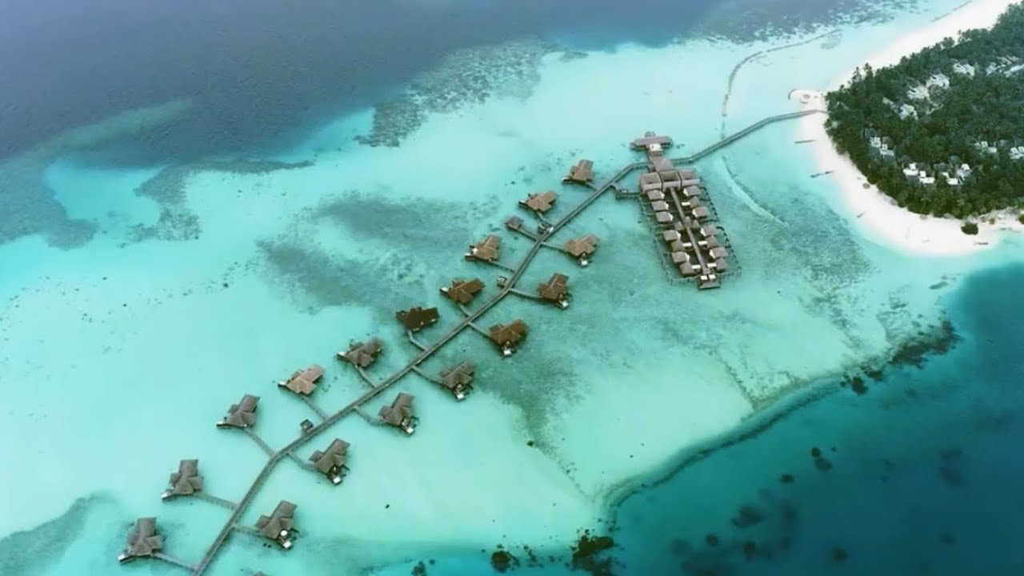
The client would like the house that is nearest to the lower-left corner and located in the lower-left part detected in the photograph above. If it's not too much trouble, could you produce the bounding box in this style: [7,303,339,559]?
[120,514,166,570]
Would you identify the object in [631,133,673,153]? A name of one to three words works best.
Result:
building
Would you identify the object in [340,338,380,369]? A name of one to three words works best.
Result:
house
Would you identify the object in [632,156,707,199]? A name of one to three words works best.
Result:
building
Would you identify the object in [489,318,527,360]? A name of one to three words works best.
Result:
house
